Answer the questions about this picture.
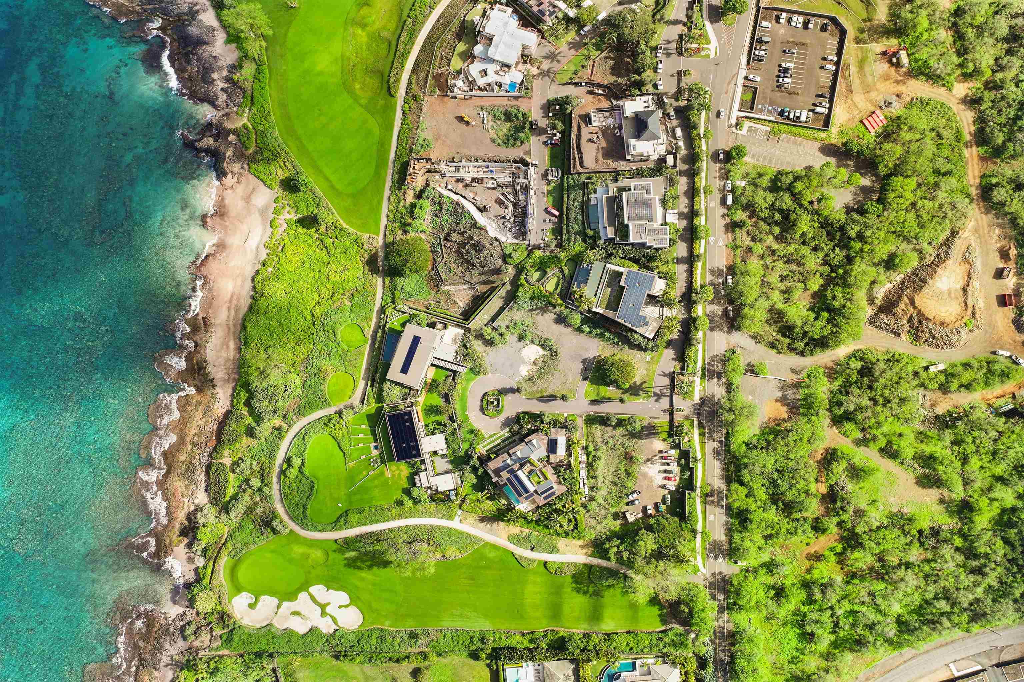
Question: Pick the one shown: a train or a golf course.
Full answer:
This aerial view contains a golf course.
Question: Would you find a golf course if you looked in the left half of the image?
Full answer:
Yes, there is a golf course in the left half of the image.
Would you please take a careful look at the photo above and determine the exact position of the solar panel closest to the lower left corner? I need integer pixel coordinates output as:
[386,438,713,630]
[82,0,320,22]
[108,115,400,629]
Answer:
[387,411,421,461]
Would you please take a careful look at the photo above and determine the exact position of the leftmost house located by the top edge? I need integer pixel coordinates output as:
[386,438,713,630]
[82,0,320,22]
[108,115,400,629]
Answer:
[456,3,541,92]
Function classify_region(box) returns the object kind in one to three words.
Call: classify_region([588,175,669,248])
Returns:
house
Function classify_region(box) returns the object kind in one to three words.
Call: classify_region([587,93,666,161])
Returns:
house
